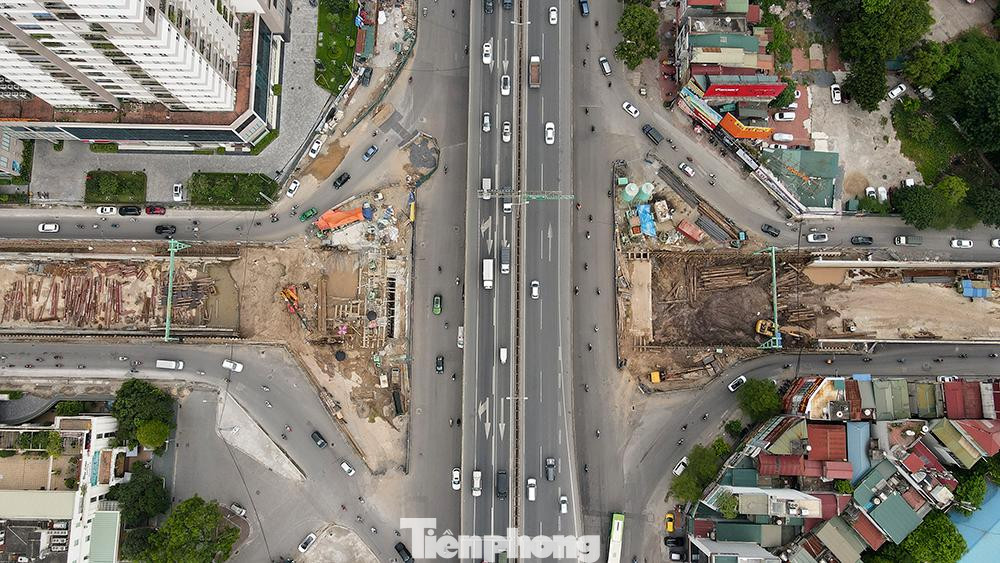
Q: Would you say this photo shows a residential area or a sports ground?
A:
residential area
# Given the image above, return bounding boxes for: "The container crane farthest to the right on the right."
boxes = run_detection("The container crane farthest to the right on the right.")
[746,245,785,342]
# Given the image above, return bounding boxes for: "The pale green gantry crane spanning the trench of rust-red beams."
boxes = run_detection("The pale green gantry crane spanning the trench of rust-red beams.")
[165,238,202,341]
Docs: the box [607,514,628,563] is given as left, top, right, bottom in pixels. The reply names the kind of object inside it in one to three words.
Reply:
bus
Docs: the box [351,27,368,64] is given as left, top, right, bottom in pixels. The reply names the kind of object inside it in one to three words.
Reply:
building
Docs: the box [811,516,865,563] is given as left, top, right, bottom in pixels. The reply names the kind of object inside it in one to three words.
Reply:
house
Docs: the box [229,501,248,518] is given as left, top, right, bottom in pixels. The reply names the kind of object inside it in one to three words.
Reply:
car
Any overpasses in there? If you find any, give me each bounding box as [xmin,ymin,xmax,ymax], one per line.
[460,0,586,563]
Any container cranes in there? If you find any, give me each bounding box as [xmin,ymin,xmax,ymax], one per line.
[165,238,202,341]
[746,245,785,342]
